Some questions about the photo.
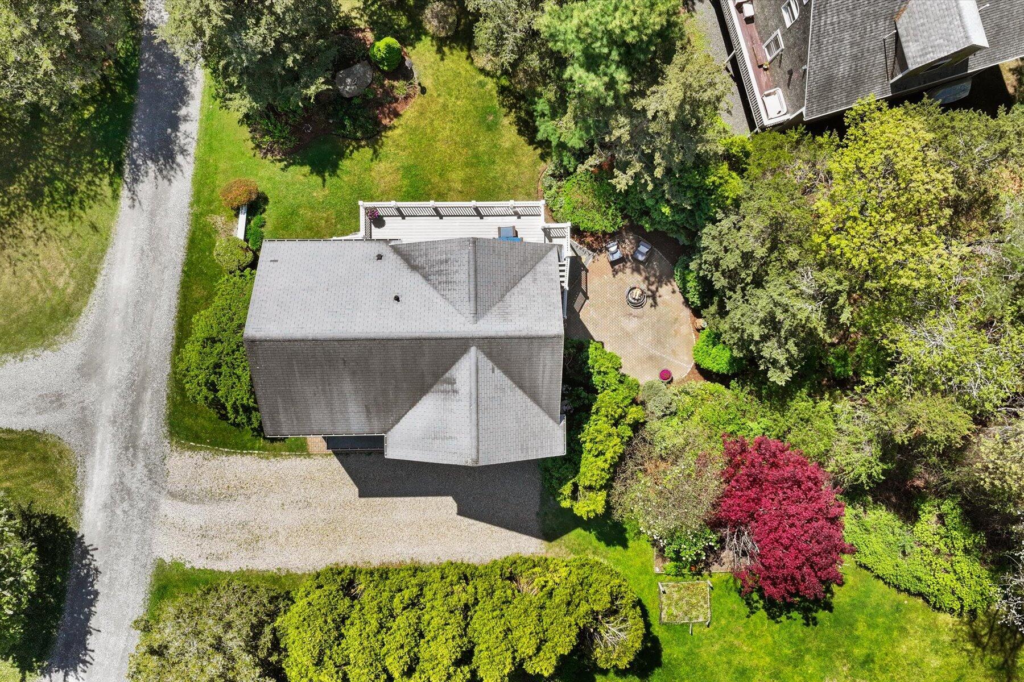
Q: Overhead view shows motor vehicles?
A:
No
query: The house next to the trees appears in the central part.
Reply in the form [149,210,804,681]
[243,236,569,466]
